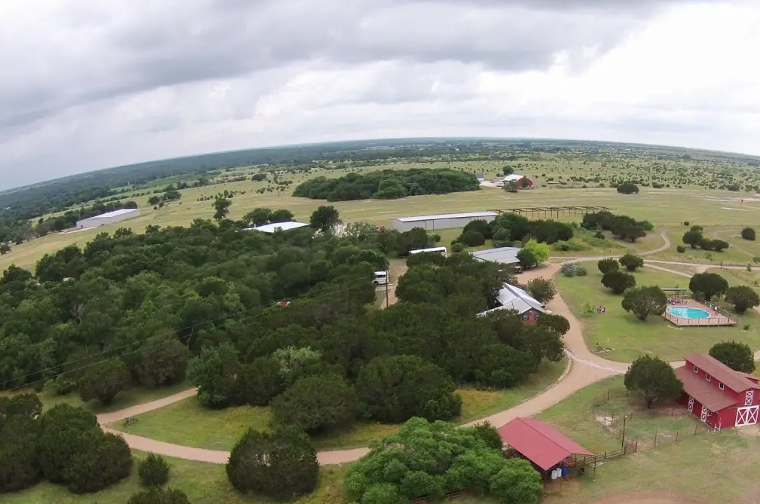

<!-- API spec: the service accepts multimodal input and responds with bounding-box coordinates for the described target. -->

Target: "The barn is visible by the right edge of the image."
[665,351,760,429]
